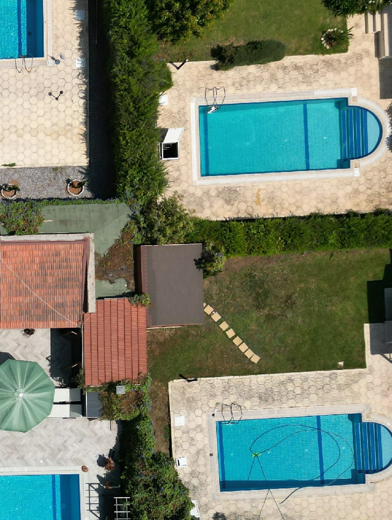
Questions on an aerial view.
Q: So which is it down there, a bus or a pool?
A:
pool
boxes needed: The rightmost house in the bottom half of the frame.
[355,291,392,349]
